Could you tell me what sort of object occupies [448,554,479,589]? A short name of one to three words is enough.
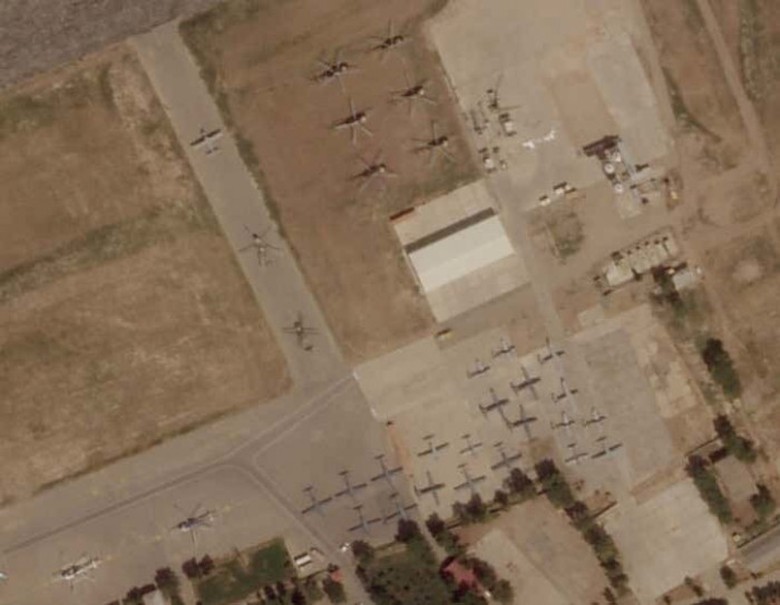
house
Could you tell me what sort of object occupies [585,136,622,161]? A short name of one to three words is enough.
shed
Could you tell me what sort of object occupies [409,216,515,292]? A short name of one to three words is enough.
hangar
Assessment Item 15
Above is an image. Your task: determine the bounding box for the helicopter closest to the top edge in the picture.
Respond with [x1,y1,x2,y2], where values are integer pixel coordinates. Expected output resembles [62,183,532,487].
[366,21,412,61]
